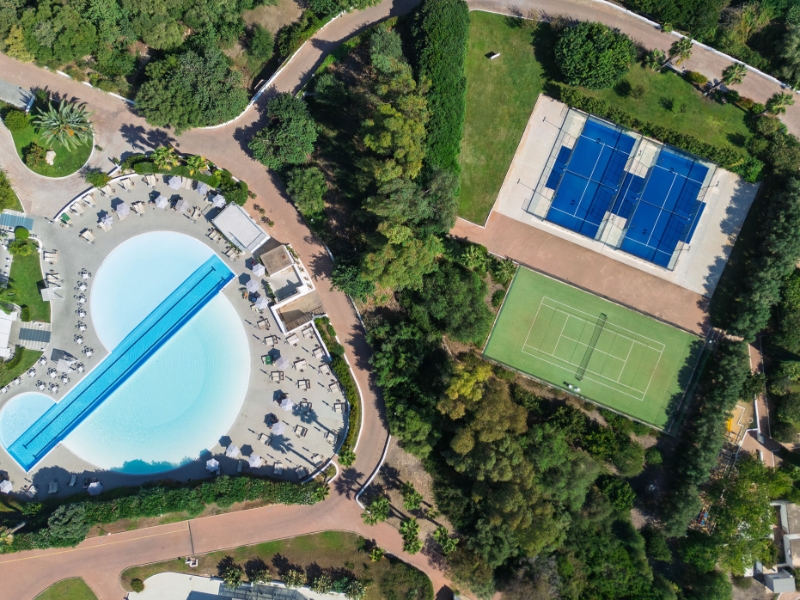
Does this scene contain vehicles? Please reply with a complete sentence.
No, this view has no vehicle in it.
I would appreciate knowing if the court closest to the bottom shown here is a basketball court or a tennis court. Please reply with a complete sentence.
It looks like the court closest to the bottom is a tennis court.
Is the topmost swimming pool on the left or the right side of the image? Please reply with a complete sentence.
It is on the left.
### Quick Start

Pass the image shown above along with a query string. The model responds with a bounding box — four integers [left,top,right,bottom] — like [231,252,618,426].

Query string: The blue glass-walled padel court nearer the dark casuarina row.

[620,141,723,269]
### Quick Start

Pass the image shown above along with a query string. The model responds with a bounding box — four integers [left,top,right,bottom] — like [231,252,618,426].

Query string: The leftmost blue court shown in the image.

[545,111,646,240]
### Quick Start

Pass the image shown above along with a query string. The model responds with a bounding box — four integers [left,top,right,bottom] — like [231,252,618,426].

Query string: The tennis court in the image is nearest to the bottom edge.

[484,264,718,440]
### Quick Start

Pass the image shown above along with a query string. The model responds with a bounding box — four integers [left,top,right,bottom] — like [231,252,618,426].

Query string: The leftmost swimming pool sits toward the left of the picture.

[0,230,252,476]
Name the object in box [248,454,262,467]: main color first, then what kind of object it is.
white umbrella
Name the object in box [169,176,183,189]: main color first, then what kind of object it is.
white umbrella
